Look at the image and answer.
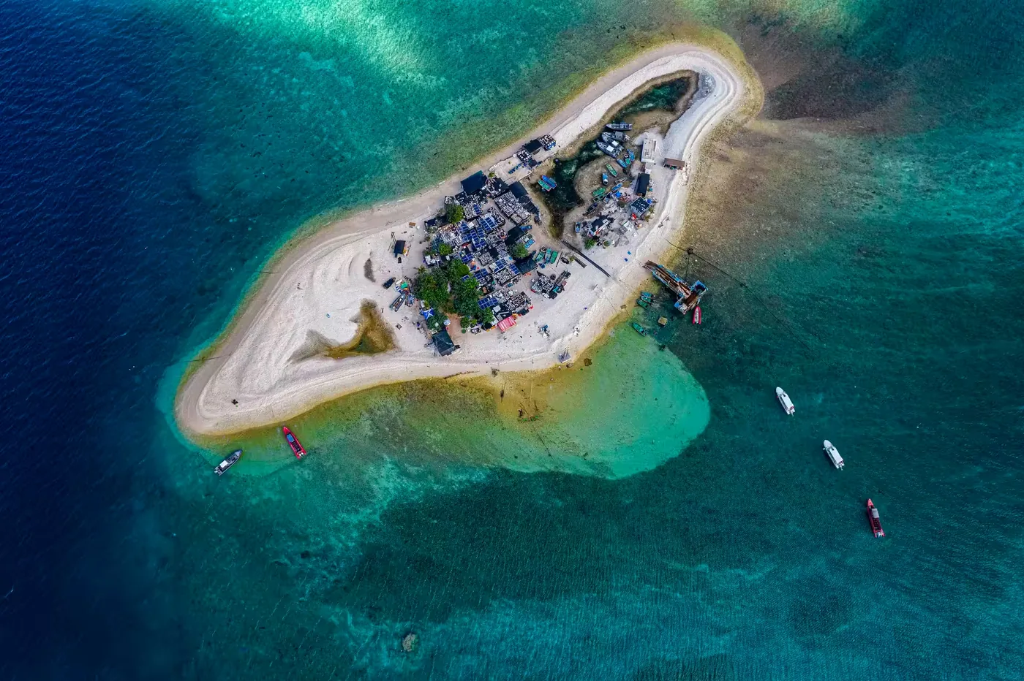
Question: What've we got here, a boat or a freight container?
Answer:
boat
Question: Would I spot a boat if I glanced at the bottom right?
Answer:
Yes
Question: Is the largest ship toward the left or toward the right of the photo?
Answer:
right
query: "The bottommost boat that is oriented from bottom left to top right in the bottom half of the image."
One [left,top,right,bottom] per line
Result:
[212,450,242,478]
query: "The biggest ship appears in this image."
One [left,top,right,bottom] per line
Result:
[643,260,709,315]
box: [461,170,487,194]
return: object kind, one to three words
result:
house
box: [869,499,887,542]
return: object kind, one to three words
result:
boat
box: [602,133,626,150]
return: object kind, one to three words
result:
boat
